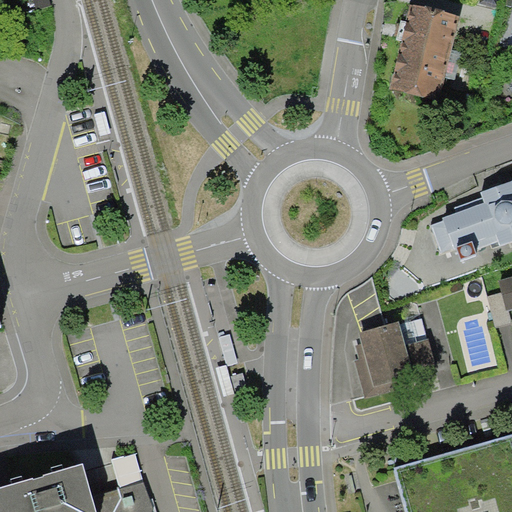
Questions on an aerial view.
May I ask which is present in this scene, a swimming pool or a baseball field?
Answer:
swimming pool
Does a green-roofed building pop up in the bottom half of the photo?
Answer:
Yes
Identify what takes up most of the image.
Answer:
paved ground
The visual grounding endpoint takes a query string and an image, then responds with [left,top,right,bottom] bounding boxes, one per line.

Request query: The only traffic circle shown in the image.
[238,136,392,290]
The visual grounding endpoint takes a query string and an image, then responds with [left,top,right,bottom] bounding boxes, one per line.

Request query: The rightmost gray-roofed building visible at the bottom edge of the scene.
[112,480,156,512]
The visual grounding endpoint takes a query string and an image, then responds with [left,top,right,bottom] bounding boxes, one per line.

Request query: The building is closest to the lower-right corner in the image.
[394,436,512,512]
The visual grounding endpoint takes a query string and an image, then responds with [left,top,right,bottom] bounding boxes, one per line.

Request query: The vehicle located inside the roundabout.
[366,218,381,242]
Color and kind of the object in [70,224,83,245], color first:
white vehicle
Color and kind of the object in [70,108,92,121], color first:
white vehicle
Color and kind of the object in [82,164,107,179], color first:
white car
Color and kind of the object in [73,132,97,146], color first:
white car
